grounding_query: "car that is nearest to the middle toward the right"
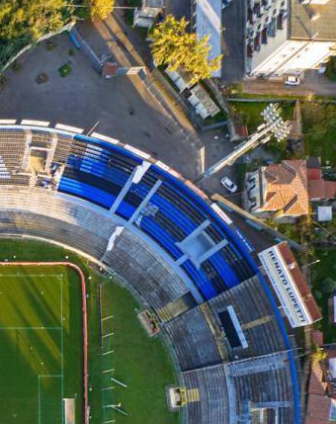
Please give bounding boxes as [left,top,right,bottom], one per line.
[221,174,239,192]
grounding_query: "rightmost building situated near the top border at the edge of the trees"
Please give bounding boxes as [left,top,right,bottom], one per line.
[247,0,336,78]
